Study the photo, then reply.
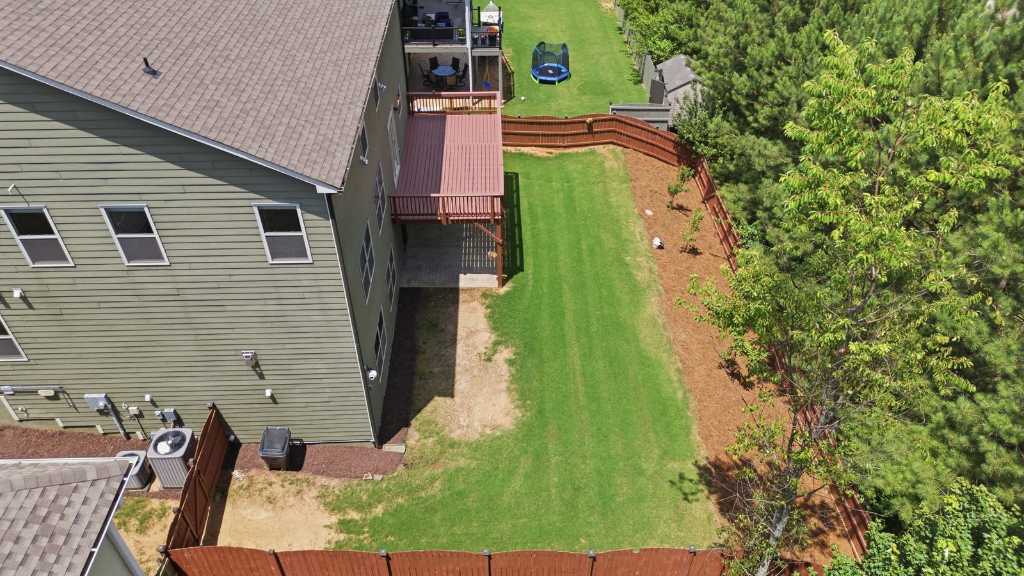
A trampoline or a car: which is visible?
trampoline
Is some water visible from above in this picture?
No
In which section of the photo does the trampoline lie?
top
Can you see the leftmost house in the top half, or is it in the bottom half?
bottom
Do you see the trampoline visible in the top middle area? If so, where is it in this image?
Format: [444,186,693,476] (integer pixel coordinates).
[530,40,571,86]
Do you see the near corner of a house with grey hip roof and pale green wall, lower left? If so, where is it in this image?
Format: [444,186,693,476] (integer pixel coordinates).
[0,457,143,576]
